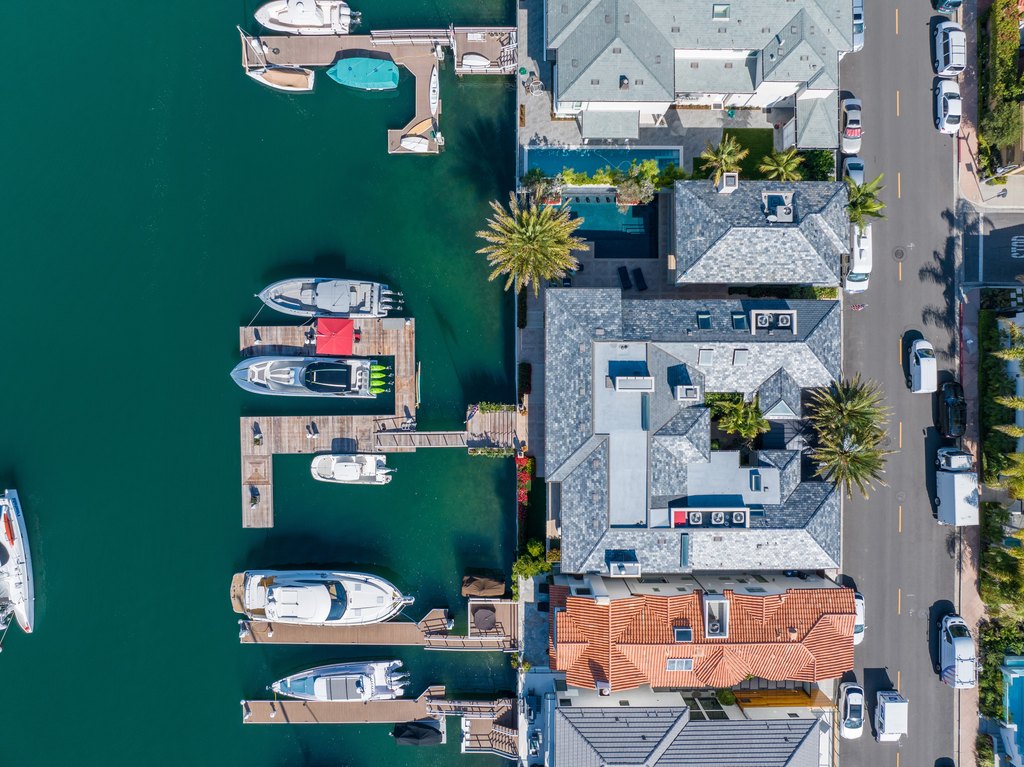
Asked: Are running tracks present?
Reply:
No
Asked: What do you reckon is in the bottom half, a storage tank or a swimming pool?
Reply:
swimming pool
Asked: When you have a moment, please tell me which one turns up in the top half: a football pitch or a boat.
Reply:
boat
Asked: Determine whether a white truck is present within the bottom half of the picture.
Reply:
Yes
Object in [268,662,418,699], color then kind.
white boat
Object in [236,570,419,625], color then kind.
white boat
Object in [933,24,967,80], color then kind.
white car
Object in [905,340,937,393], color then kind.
white van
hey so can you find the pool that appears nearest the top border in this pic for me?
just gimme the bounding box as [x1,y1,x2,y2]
[524,146,683,184]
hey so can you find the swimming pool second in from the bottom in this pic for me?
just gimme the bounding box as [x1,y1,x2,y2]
[543,197,660,260]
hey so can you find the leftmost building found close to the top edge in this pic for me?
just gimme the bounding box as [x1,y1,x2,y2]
[542,0,854,160]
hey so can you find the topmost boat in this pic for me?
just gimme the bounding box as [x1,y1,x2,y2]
[253,0,368,34]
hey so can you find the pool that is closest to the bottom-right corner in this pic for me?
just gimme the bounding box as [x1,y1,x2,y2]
[999,653,1024,748]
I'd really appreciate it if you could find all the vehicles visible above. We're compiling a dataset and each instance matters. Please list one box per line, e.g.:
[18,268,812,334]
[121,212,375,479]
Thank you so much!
[905,340,937,393]
[838,99,866,155]
[840,220,874,294]
[838,155,868,210]
[931,80,964,136]
[854,591,869,644]
[933,24,967,80]
[837,680,867,737]
[849,0,869,53]
[934,446,980,526]
[874,690,909,743]
[934,382,968,438]
[935,614,977,692]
